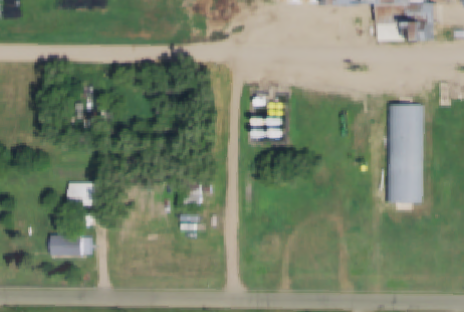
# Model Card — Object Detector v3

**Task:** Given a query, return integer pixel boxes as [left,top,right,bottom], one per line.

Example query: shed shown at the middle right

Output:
[388,103,426,202]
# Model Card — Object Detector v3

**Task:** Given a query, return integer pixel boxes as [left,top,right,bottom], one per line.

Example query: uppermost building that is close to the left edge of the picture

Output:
[4,0,22,17]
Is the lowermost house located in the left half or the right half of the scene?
left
